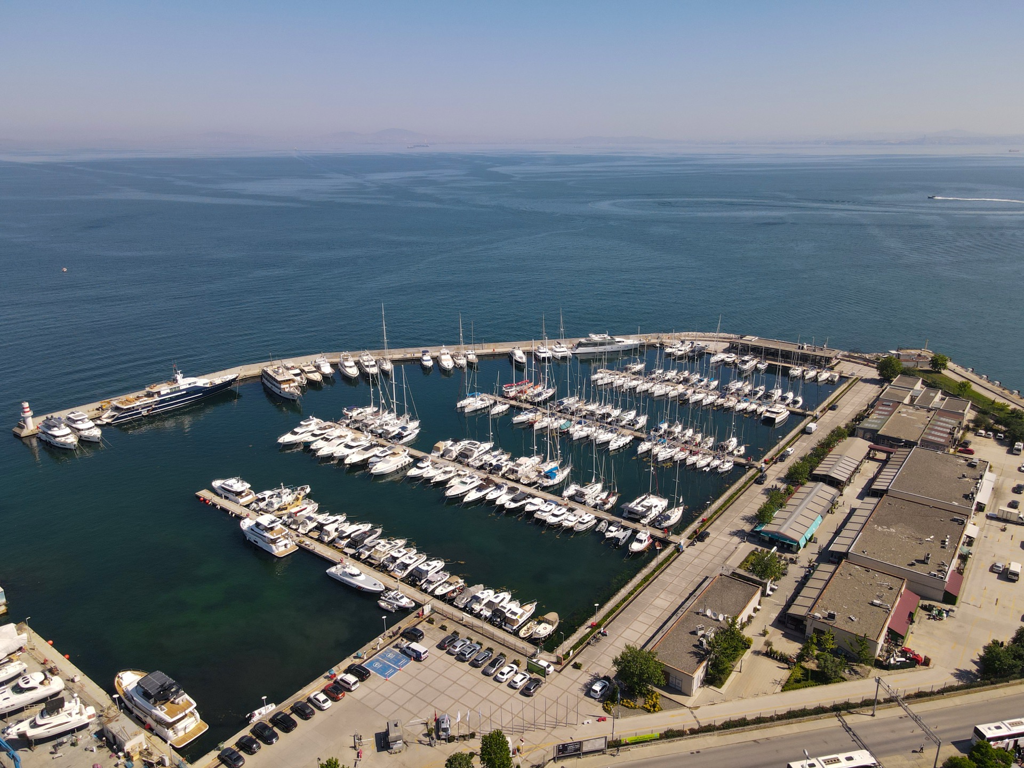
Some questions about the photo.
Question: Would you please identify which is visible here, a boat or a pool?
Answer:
boat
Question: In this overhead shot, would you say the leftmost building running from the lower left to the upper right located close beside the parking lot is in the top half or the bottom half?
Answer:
bottom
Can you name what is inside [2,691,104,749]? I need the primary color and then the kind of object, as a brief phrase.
white boat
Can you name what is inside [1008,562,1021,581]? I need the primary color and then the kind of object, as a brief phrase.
white vehicle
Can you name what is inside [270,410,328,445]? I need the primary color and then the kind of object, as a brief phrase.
white boat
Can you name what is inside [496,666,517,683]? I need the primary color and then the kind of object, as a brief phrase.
white car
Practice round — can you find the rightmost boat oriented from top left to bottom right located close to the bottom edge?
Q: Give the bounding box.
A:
[110,671,220,760]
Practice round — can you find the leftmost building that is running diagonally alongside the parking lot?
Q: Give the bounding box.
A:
[647,574,761,694]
